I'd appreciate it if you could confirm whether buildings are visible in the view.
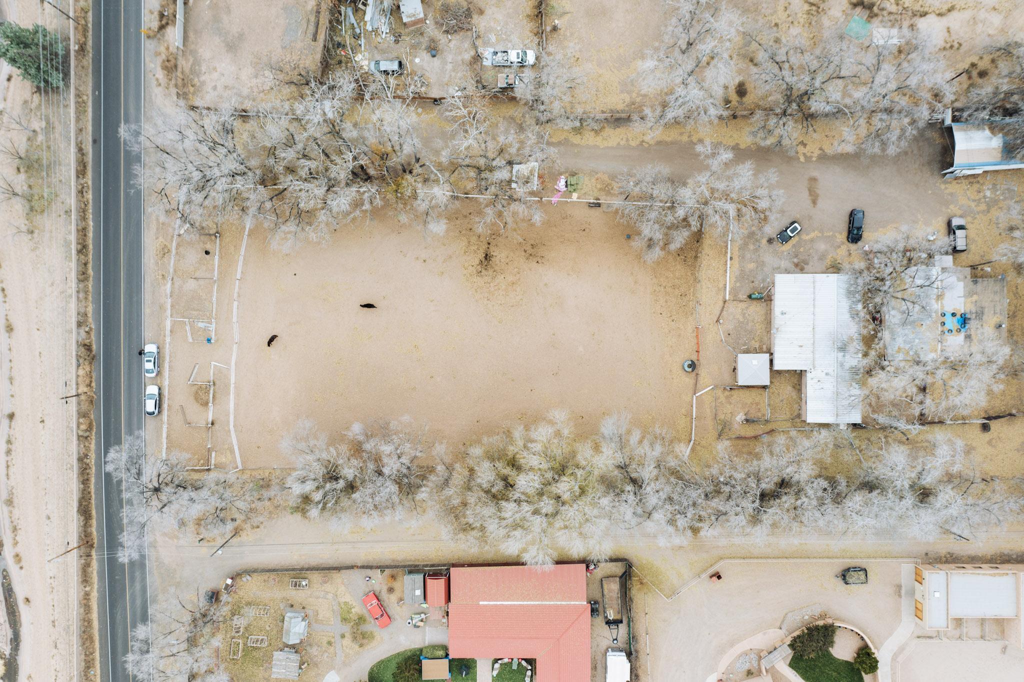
Yes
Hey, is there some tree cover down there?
Yes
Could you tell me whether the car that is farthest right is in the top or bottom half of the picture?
top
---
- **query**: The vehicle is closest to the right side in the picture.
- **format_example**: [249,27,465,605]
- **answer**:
[946,216,968,253]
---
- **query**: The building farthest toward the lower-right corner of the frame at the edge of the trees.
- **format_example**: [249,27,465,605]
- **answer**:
[914,564,1024,650]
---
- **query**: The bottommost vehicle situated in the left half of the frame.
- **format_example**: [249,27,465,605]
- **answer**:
[362,589,391,631]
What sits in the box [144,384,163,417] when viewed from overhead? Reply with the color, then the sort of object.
white car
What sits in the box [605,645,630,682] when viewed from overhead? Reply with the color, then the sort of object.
white camper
